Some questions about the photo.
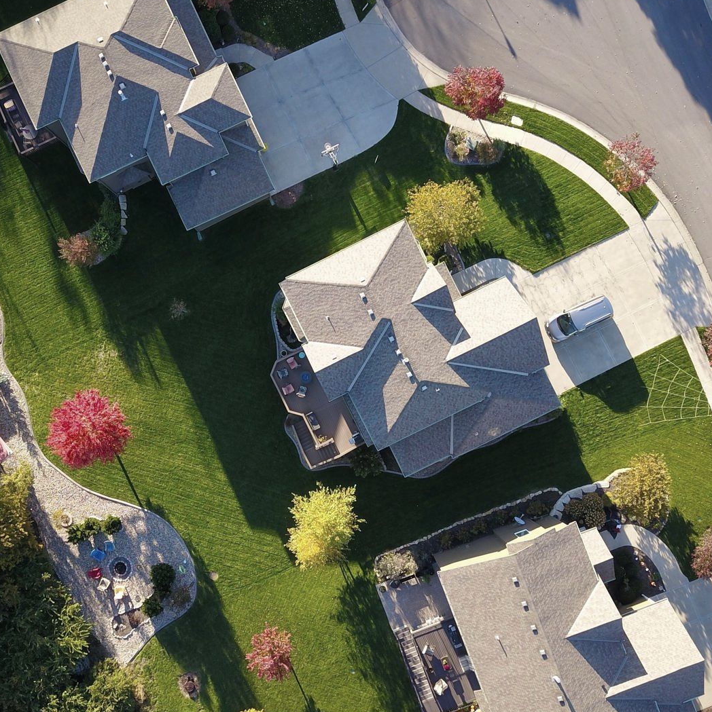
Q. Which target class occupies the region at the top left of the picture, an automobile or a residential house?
residential house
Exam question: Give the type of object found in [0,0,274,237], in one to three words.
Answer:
house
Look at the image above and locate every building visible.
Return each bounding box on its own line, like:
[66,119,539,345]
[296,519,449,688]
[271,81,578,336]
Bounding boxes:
[276,218,562,479]
[0,0,274,237]
[431,512,705,712]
